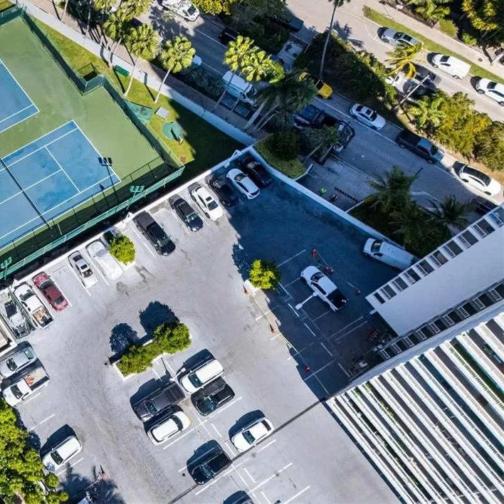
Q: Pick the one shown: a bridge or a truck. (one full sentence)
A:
I can see a truck in this picture.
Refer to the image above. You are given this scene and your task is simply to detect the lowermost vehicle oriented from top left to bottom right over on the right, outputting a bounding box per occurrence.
[298,264,353,313]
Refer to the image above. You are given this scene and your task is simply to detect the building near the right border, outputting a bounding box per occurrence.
[328,189,504,504]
